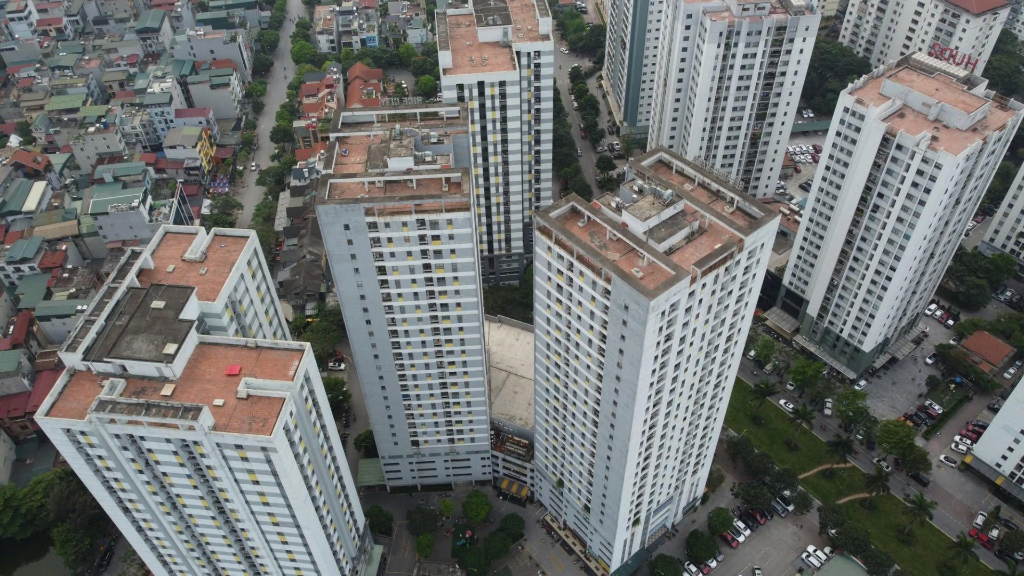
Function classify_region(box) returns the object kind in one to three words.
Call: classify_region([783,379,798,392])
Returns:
vehicle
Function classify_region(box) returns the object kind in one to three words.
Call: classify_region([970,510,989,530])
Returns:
car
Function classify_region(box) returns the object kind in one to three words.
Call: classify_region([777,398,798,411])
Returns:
vehicle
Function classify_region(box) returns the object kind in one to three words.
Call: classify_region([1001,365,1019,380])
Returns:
car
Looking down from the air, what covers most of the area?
buildings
